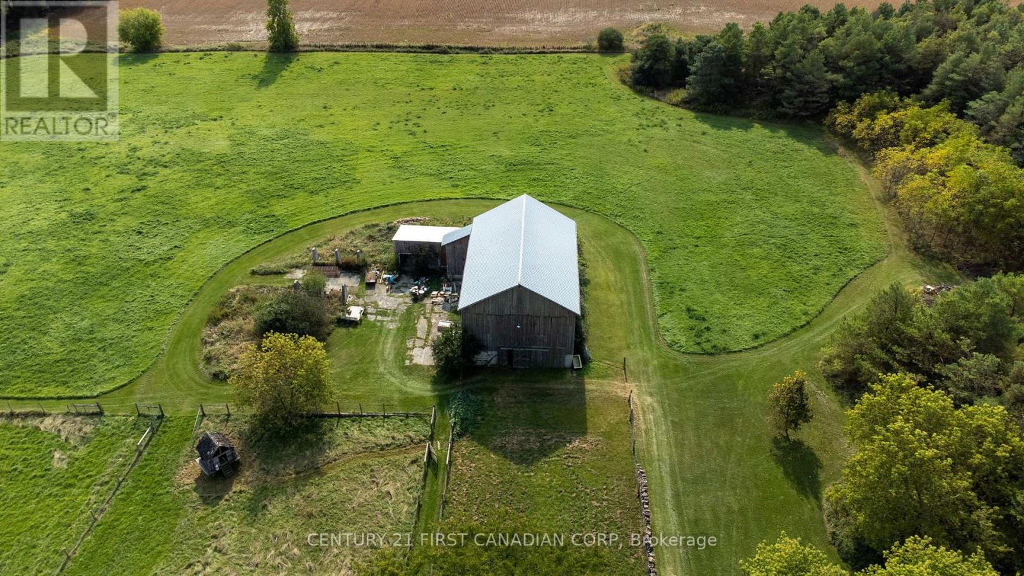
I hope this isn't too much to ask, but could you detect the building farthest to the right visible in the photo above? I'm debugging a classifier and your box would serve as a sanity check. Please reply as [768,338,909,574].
[456,193,580,370]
